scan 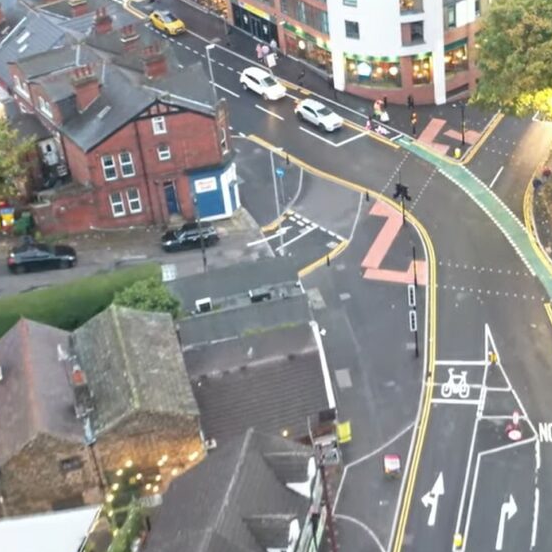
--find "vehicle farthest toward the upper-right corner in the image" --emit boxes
[290,92,344,128]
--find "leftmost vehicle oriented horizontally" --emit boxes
[3,240,75,272]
